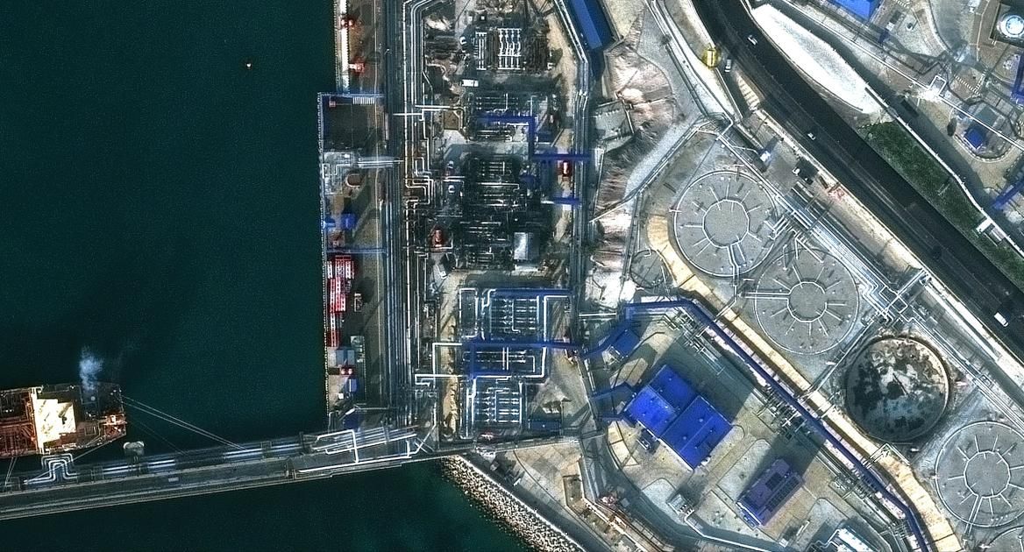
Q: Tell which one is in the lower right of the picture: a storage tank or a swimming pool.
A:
storage tank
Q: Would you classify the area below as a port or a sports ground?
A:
port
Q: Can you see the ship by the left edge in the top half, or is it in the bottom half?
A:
bottom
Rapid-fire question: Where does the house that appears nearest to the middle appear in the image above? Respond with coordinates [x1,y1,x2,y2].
[513,232,539,262]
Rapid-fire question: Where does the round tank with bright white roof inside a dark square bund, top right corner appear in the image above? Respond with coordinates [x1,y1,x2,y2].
[988,2,1024,48]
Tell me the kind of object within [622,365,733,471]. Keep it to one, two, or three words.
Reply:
building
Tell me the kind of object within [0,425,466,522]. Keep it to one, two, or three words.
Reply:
pier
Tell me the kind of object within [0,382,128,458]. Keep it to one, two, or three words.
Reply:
ship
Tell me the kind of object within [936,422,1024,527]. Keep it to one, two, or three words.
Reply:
storage tank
